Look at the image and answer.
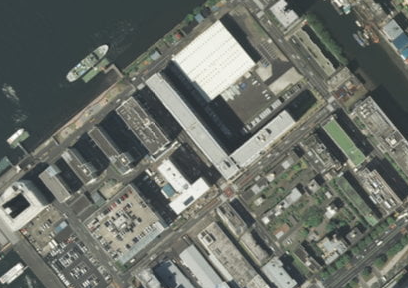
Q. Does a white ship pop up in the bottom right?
No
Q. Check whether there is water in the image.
Yes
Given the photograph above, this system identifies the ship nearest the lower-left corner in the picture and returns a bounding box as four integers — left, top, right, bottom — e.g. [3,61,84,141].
[0,263,27,283]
